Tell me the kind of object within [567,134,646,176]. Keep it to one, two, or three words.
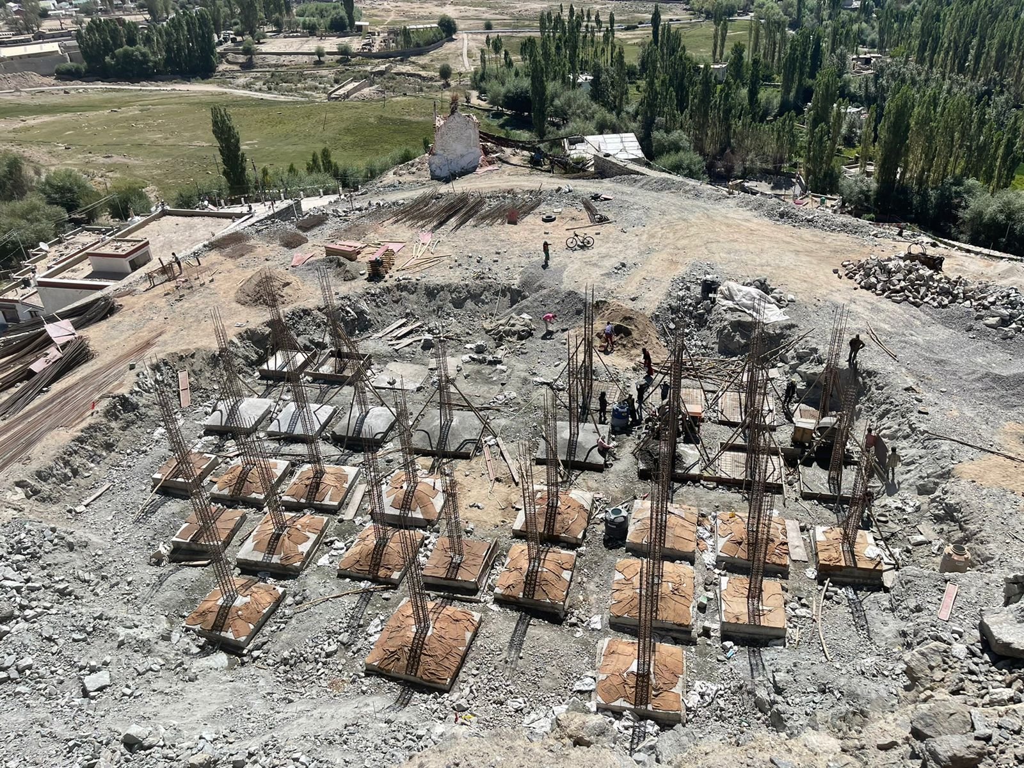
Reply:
house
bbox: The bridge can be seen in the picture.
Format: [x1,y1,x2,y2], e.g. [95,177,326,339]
[327,69,370,100]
